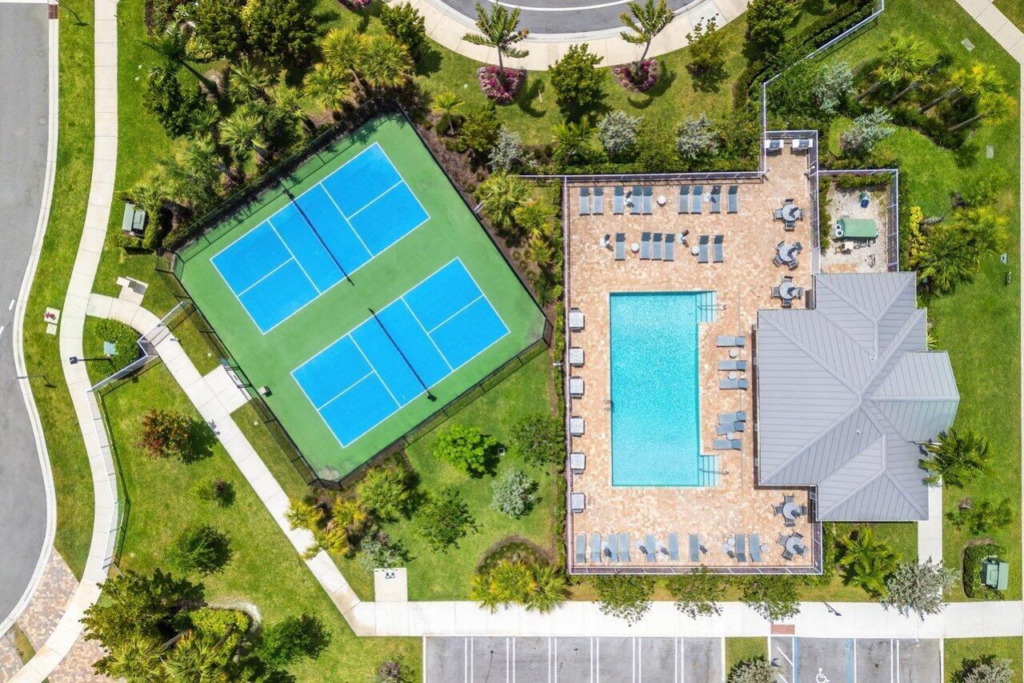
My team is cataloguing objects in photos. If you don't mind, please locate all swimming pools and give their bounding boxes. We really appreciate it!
[601,288,726,490]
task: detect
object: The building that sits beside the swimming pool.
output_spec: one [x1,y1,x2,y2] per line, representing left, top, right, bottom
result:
[753,271,959,523]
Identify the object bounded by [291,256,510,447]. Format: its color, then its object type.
blue sports court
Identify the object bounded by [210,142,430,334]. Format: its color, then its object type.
blue sports court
